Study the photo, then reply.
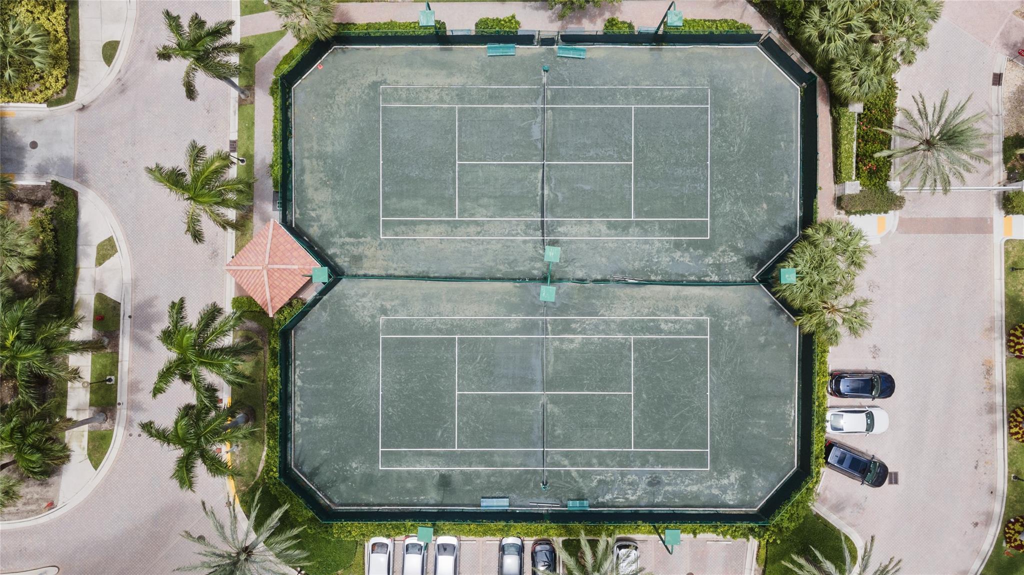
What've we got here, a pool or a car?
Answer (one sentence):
Visible in the photo is a car.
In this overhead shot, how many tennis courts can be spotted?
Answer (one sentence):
The picture shows 2 tennis courts.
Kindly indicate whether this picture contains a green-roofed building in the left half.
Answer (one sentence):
No, no green-roofed building appears in the left half.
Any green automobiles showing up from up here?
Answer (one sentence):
No, I find no green automobile anywhere in the image.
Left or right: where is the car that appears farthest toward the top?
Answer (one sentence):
The car that appears farthest toward the top sits on the right side.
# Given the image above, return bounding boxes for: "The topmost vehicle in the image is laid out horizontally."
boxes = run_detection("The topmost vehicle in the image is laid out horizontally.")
[825,369,894,401]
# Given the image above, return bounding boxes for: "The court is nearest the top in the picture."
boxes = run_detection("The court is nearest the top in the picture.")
[293,46,800,283]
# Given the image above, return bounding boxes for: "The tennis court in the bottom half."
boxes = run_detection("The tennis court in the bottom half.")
[292,278,798,509]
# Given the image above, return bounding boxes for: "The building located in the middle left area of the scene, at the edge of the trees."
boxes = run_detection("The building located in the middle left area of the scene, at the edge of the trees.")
[222,217,325,319]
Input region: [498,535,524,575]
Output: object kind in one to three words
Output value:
car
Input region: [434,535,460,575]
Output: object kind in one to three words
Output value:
car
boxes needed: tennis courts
[293,46,800,283]
[292,278,798,509]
